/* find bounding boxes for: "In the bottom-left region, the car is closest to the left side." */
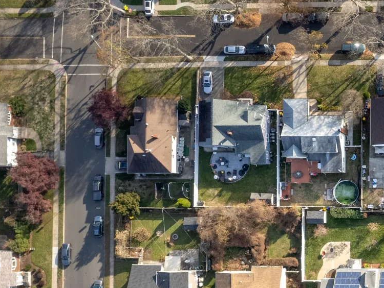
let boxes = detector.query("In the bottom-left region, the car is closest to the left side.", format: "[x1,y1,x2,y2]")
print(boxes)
[61,244,73,265]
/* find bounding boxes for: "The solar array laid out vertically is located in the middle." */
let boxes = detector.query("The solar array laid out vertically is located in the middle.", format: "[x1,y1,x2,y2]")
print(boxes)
[199,100,211,142]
